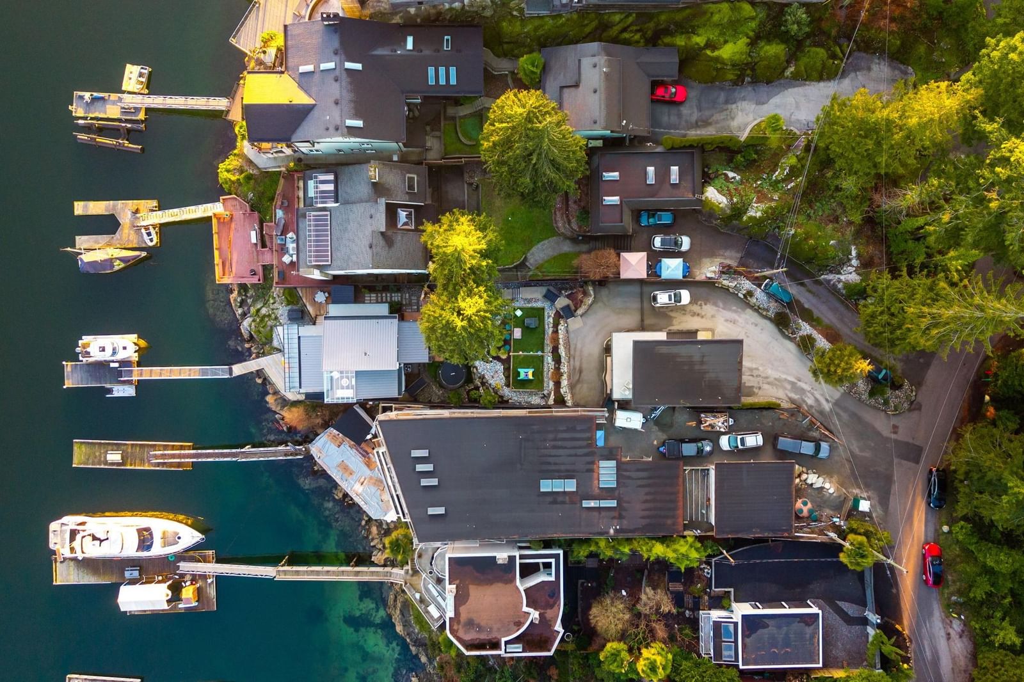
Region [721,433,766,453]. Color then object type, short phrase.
white car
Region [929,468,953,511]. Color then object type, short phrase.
black car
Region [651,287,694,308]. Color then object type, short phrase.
white car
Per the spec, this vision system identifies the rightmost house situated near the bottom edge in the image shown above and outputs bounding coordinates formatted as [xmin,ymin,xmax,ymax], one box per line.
[695,599,821,667]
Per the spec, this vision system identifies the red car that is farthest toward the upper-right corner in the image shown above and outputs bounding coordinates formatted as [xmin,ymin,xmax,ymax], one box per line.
[652,81,689,102]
